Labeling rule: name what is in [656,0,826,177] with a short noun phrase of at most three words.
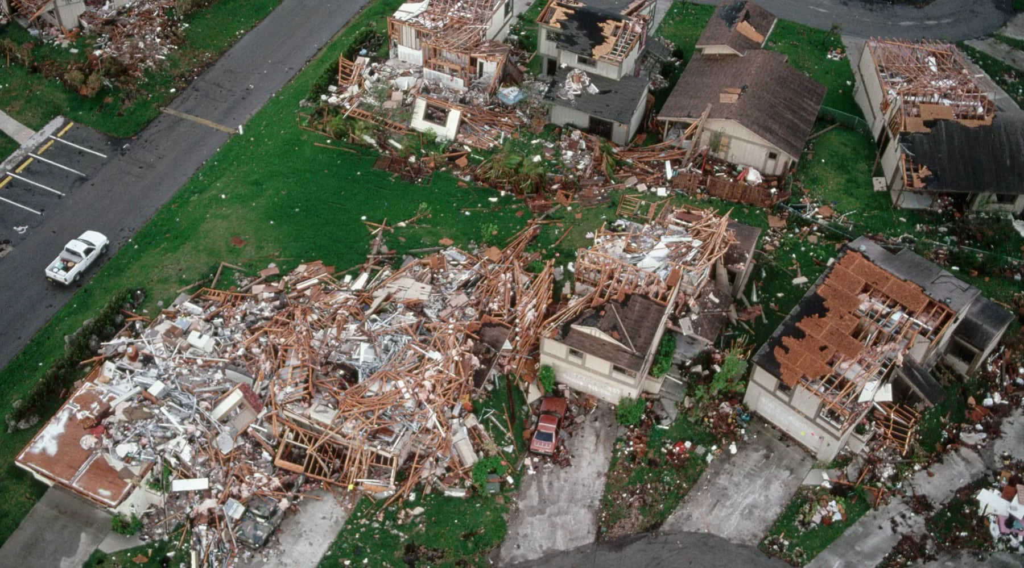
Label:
house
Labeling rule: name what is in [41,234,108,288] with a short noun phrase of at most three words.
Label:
truck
